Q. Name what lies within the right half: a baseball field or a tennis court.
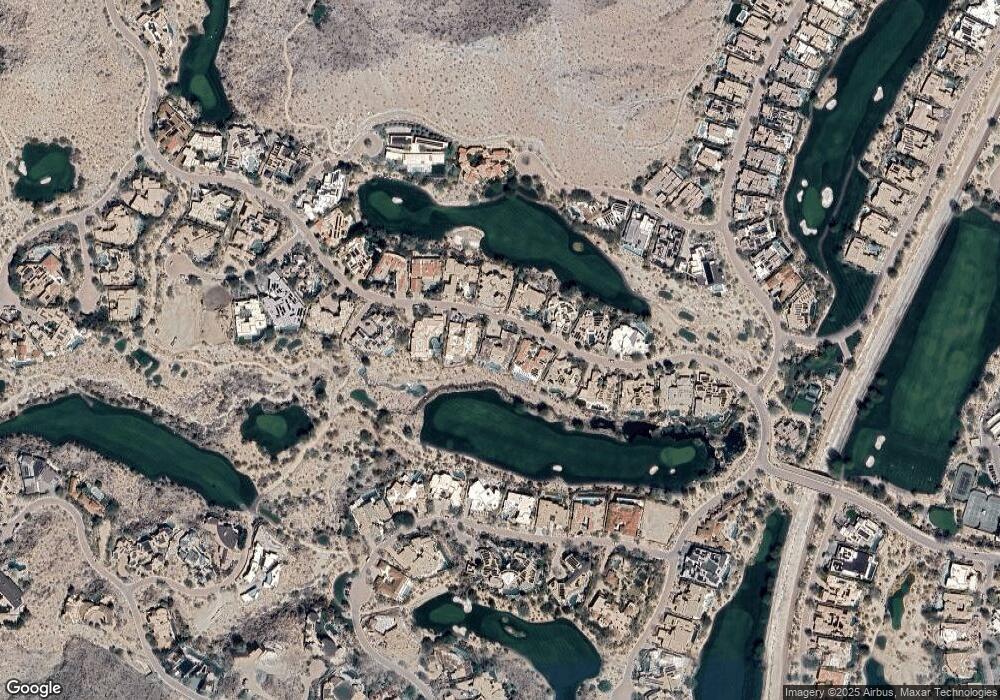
tennis court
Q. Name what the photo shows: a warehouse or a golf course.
golf course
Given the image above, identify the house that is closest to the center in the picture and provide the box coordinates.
[478,325,518,370]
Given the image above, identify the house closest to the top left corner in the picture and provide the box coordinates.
[132,6,172,51]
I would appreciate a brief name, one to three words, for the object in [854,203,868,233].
swimming pool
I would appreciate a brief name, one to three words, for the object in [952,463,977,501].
tennis court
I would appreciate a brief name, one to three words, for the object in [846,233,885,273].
house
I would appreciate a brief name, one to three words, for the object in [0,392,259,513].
golf course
